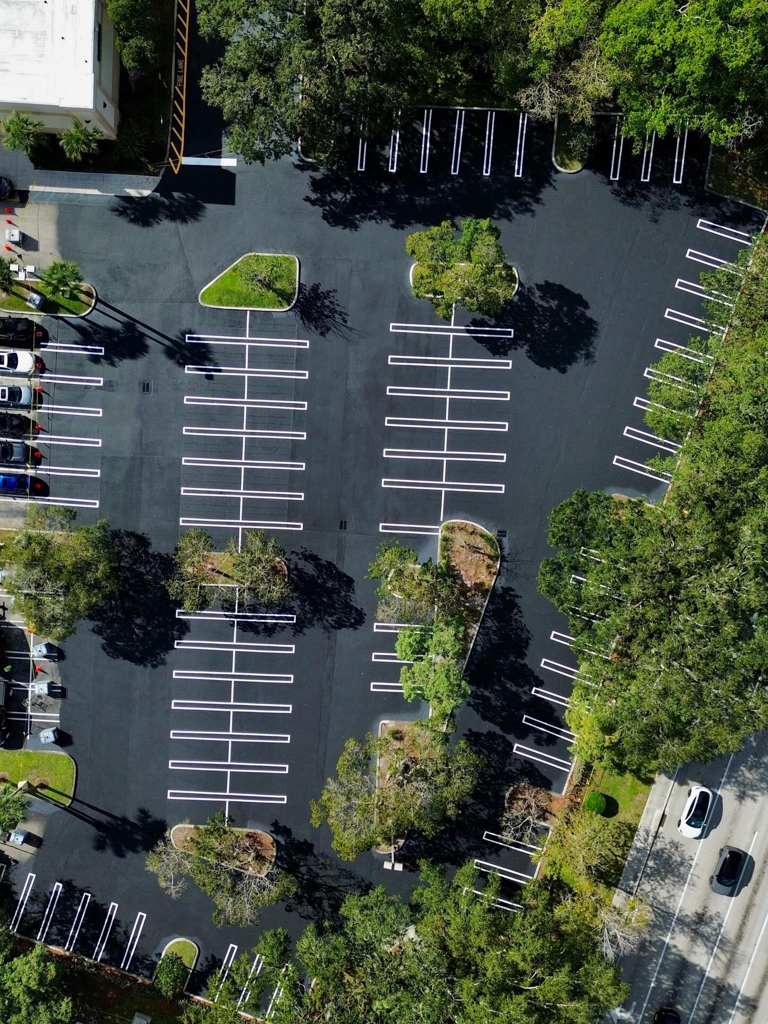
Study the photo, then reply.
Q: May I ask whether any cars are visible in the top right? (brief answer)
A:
No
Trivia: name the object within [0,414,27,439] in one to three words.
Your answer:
car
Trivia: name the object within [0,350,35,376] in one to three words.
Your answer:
car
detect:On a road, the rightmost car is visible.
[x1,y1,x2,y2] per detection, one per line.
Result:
[709,841,743,896]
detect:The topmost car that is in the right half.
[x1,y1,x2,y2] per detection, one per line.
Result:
[676,781,709,835]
